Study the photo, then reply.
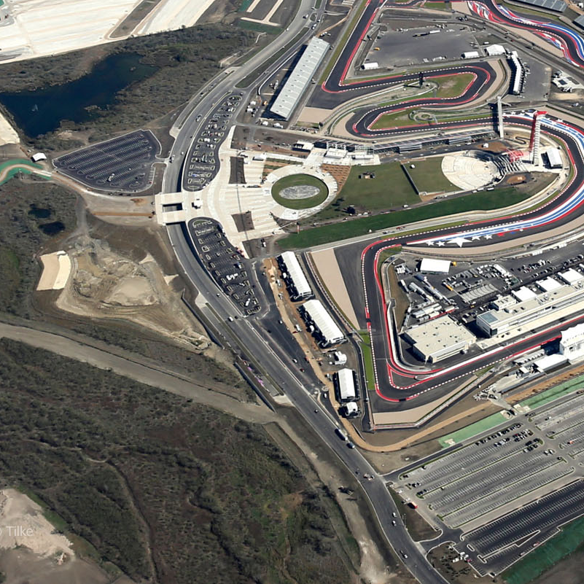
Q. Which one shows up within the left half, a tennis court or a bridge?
bridge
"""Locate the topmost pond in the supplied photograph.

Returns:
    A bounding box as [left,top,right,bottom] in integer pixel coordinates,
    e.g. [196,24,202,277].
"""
[0,51,160,135]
